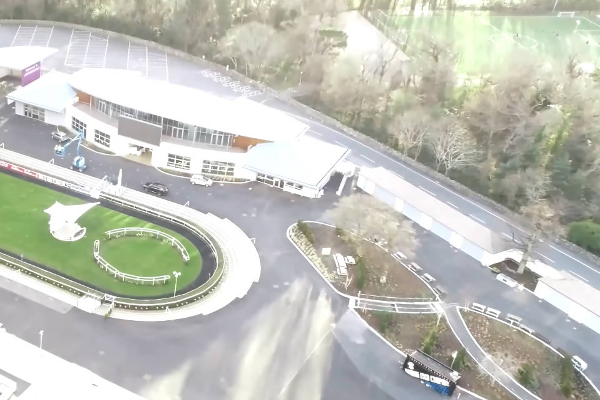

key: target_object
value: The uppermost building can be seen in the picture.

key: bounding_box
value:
[51,67,309,178]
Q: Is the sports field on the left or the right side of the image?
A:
right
